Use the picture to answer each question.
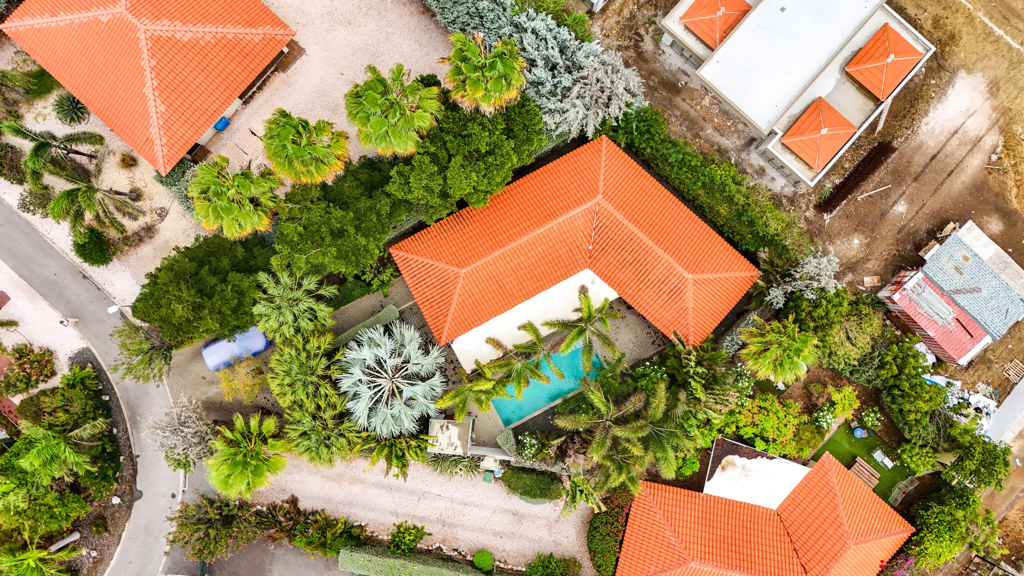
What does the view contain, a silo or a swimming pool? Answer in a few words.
swimming pool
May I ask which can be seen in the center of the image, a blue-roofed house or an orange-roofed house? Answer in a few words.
orange-roofed house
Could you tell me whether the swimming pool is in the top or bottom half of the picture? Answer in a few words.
bottom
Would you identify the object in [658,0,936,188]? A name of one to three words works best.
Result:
house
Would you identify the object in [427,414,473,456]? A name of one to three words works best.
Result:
shed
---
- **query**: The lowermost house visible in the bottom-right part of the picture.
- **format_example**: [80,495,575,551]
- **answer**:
[616,437,919,576]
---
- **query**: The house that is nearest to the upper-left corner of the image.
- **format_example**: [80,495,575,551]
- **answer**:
[0,0,308,177]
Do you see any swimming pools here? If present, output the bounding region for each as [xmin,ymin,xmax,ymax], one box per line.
[475,326,612,435]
